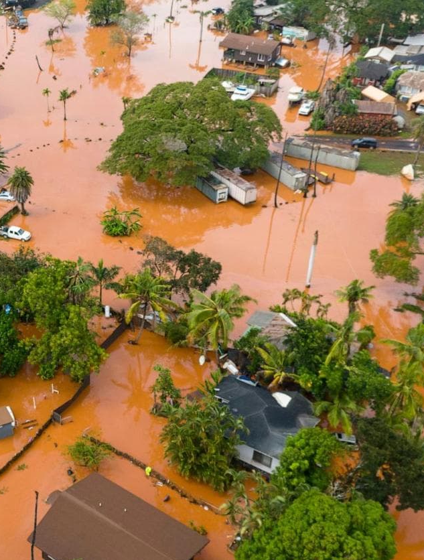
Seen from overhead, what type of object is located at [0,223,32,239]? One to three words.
vehicle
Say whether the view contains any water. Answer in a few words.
Yes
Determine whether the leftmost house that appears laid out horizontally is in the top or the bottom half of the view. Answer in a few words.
bottom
